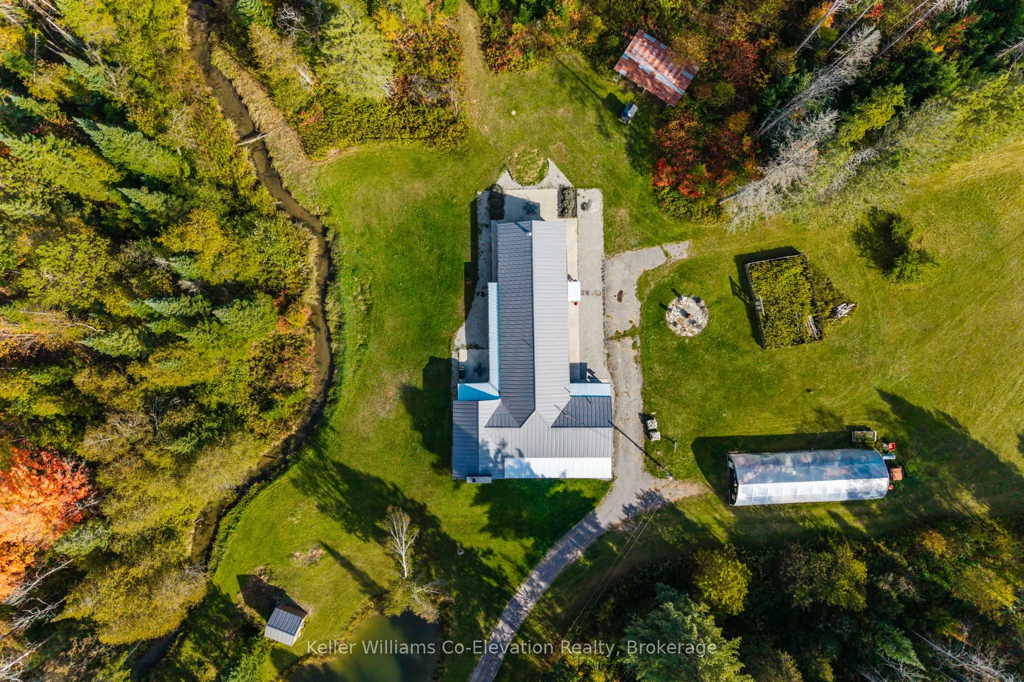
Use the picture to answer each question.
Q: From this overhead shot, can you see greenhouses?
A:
Yes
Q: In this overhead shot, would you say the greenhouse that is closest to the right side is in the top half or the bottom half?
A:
bottom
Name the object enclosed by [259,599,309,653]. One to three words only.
shed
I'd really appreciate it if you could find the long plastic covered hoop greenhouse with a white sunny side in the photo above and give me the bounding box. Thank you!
[729,448,889,508]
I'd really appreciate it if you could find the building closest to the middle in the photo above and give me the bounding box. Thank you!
[452,218,612,486]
